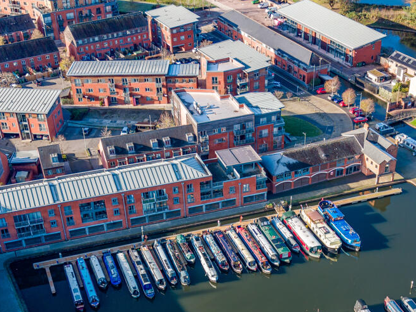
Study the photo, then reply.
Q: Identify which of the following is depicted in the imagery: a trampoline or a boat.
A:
boat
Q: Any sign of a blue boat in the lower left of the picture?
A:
Yes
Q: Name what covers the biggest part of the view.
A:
buildings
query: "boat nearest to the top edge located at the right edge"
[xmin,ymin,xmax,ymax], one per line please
[376,120,397,135]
